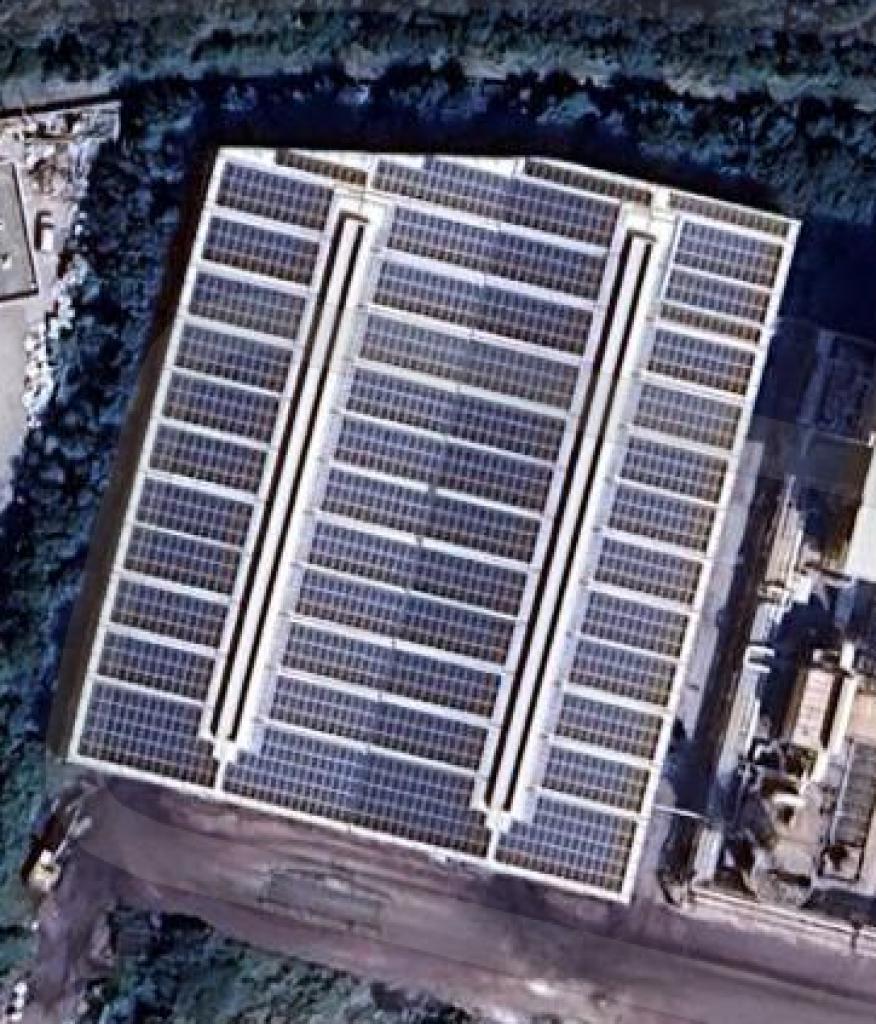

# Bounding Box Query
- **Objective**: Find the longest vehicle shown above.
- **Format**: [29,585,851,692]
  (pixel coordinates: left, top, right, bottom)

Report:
[26,822,86,893]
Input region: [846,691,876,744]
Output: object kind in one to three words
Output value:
building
